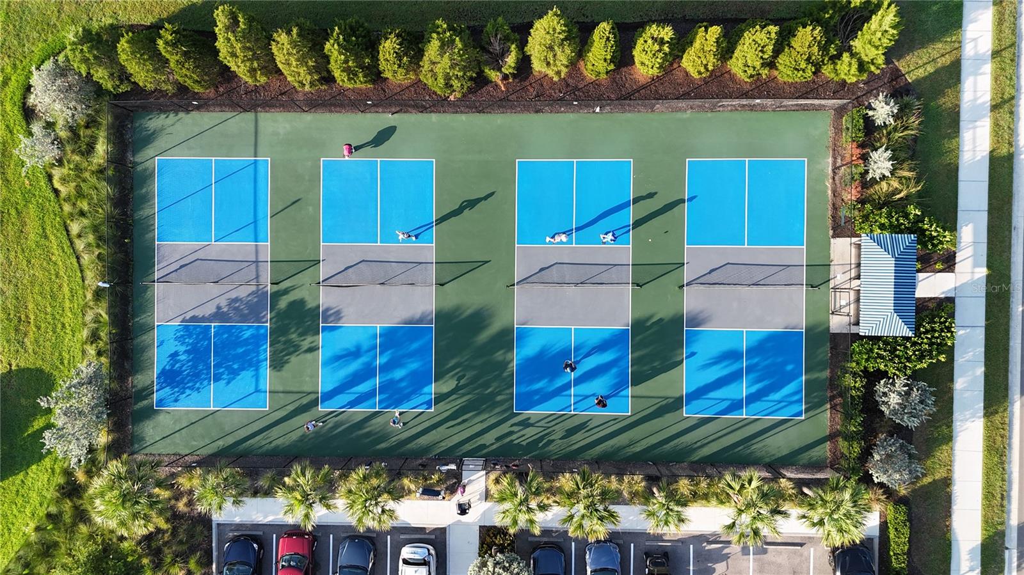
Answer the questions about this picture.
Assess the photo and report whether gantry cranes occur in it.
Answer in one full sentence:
No, the photo shows no gantry crane.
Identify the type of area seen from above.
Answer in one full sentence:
It's a sports ground.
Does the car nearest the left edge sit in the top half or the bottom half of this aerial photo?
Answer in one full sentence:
The bottom half of the photo is where the car nearest the left edge is.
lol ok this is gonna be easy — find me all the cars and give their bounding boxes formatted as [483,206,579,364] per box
[530,542,567,575]
[400,542,439,575]
[332,534,378,575]
[272,528,319,575]
[824,544,870,575]
[578,539,619,575]
[215,534,262,575]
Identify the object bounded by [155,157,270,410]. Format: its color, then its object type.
blue sports court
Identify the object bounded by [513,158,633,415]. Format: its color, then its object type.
blue sports court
